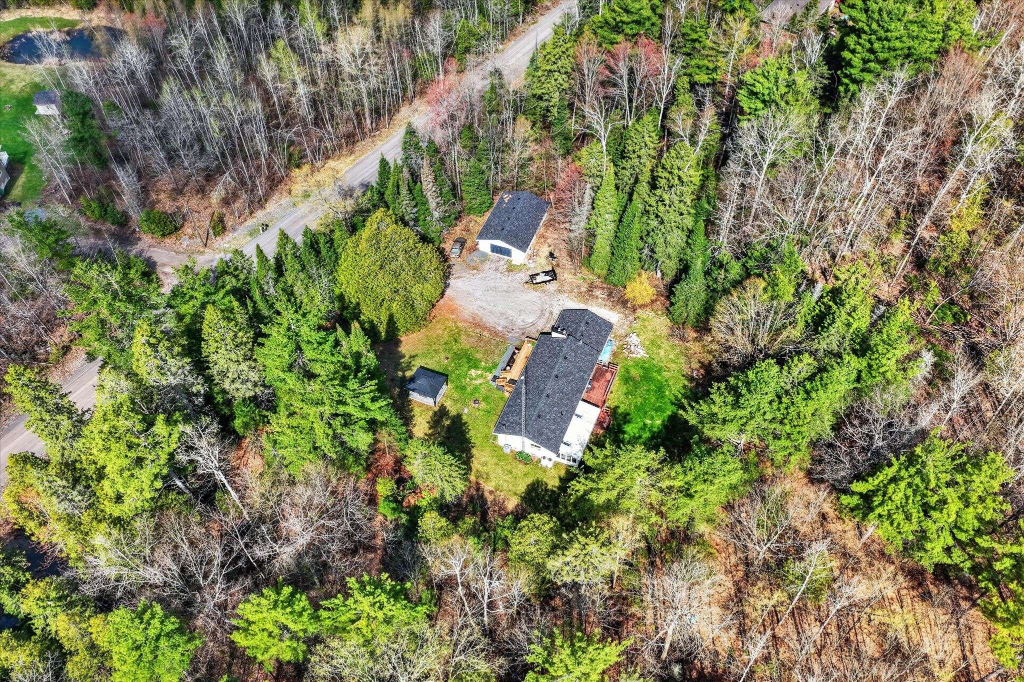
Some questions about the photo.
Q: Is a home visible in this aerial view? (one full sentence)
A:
Yes, this view includes a home.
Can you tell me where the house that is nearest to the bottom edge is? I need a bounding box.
[494,311,613,469]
